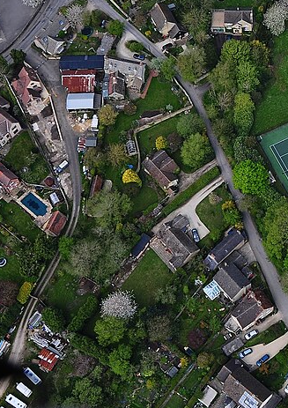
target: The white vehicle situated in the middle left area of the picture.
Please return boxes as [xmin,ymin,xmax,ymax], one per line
[54,160,70,172]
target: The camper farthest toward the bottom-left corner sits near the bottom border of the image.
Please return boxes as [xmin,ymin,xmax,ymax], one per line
[8,395,24,408]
